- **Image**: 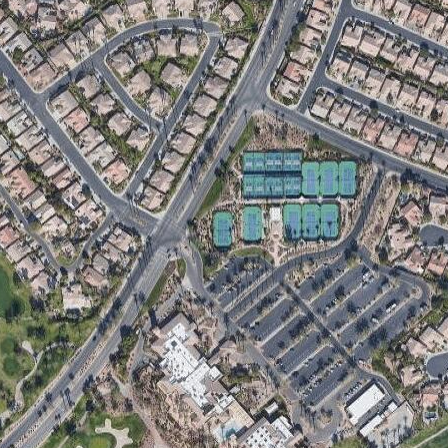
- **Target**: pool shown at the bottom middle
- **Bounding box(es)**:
[224,422,240,440]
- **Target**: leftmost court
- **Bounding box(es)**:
[215,212,232,248]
